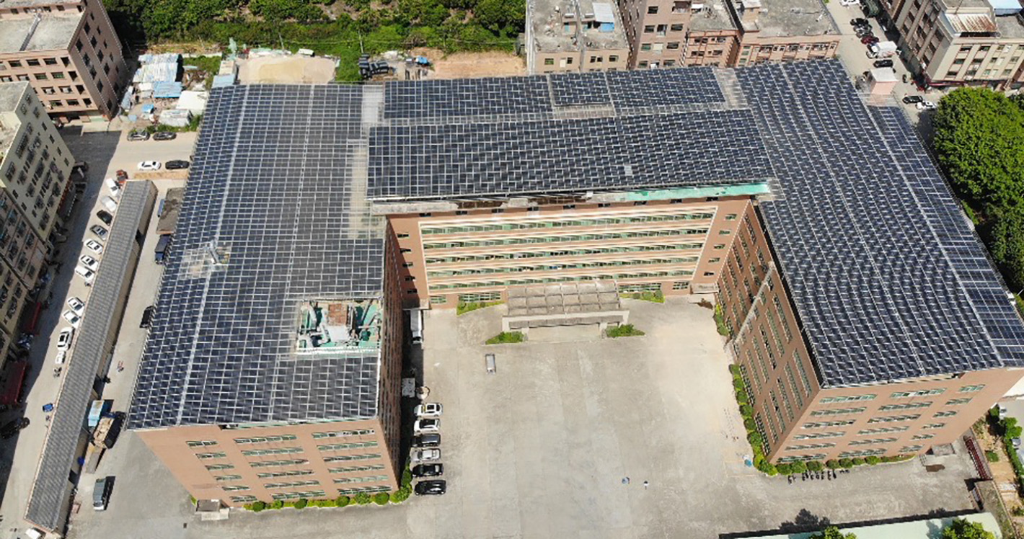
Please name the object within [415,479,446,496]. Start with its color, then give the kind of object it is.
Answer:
black car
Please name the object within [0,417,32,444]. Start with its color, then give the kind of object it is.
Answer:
black car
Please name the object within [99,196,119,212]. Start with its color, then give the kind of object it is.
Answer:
white car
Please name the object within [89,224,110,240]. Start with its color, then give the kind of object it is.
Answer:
gray car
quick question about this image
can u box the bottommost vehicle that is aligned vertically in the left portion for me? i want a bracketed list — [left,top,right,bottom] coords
[92,476,113,511]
